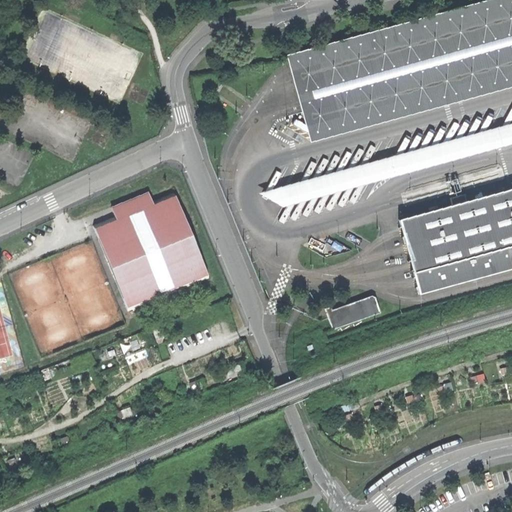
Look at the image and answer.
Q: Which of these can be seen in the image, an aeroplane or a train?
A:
train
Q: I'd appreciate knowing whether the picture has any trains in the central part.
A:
No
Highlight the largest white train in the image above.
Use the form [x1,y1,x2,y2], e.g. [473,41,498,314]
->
[364,436,463,494]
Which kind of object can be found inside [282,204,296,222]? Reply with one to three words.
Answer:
vehicle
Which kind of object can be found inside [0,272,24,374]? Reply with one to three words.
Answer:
sports court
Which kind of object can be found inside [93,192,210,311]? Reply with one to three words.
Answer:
building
